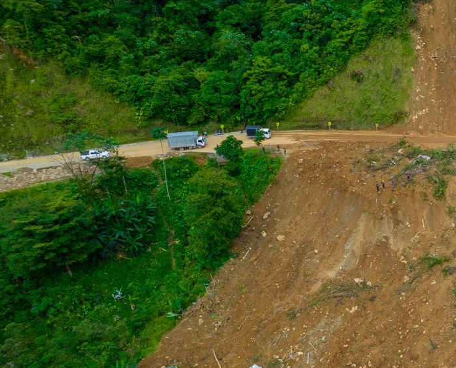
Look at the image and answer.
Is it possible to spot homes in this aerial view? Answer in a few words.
No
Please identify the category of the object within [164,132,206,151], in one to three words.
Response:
vehicle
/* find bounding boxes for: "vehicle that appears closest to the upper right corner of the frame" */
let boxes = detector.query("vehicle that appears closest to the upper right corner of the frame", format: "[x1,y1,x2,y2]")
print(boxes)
[242,125,272,140]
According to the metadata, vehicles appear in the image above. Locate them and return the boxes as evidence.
[242,125,272,140]
[164,132,206,151]
[78,147,110,160]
